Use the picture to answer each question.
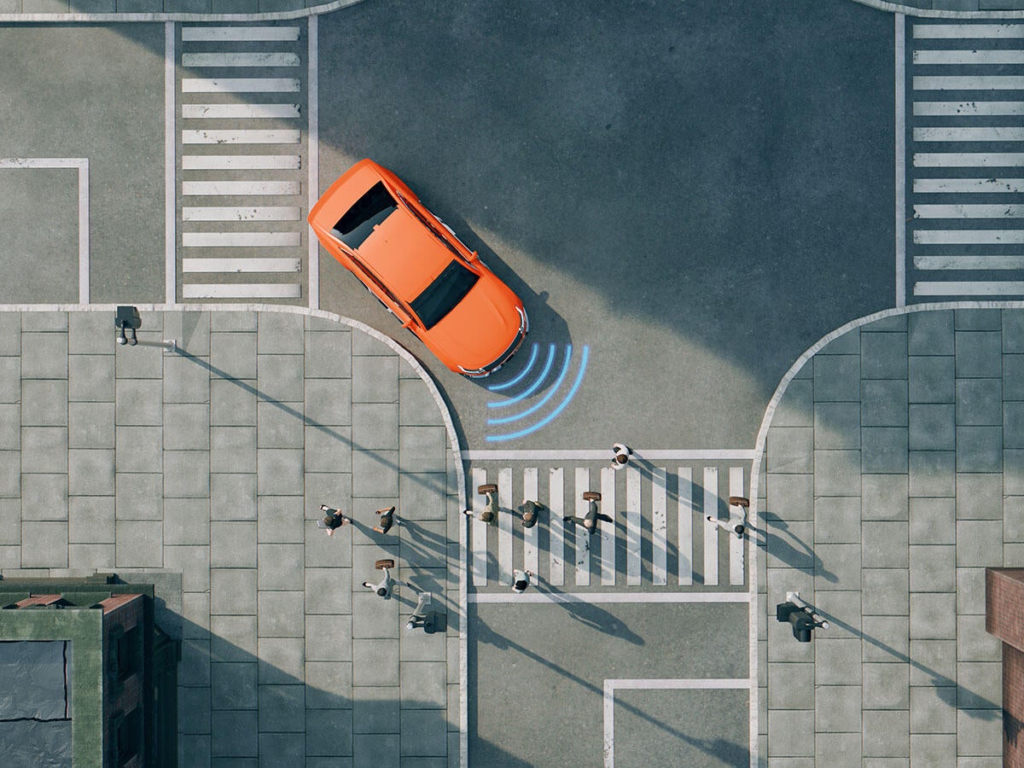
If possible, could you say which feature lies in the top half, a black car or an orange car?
orange car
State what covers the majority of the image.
paved ground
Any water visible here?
No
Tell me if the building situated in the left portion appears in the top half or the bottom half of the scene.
bottom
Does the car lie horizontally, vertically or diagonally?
diagonally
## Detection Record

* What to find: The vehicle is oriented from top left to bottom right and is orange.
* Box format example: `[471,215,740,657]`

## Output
[308,157,534,380]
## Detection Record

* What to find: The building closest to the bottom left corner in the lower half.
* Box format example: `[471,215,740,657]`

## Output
[0,570,178,768]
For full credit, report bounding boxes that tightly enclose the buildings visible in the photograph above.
[986,630,1024,768]
[0,570,178,768]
